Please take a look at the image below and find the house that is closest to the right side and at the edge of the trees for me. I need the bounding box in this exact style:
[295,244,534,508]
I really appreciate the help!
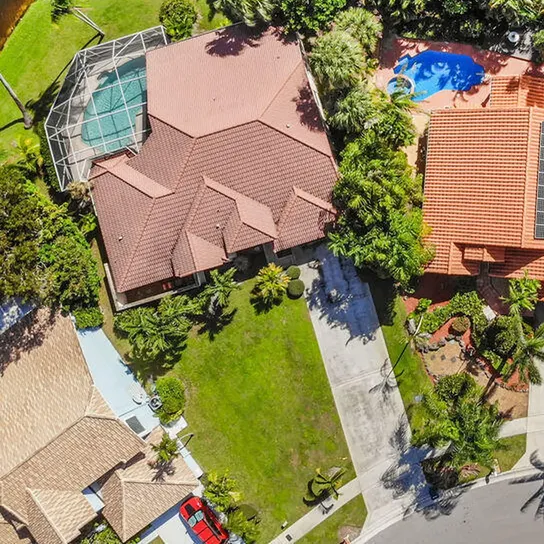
[423,75,544,303]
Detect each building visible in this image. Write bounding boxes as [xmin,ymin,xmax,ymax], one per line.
[0,309,204,544]
[87,9,338,313]
[423,75,544,303]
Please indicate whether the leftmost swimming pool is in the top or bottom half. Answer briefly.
top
